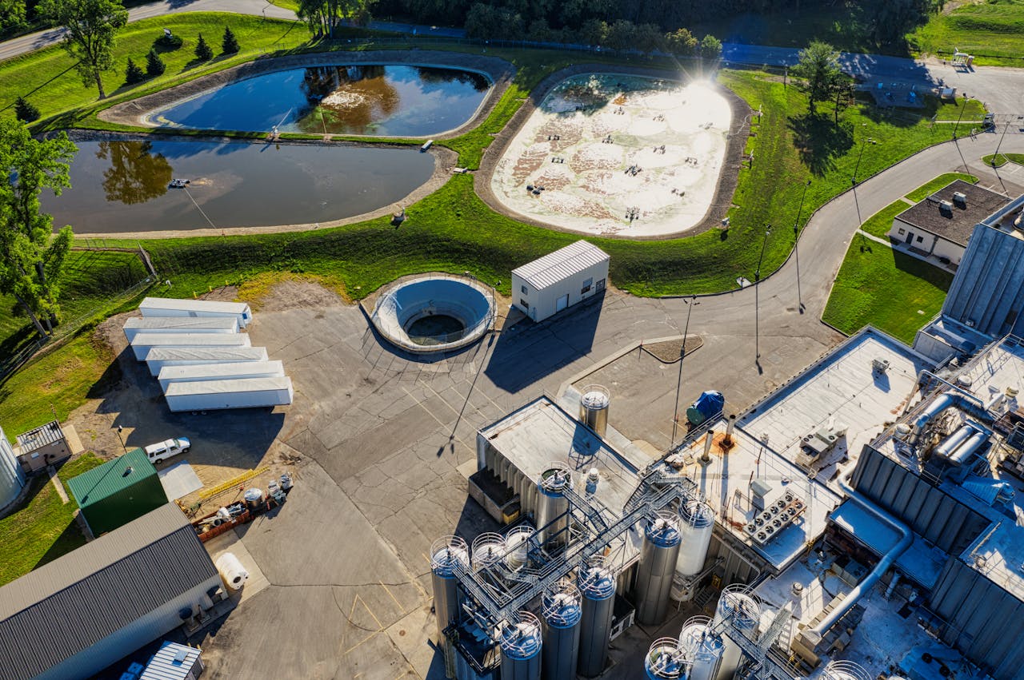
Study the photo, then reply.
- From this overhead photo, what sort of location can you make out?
industrial area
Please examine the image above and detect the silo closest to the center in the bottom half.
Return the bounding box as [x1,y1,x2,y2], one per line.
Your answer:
[578,390,609,438]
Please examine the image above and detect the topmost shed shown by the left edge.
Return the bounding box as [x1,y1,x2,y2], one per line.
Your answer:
[16,420,71,470]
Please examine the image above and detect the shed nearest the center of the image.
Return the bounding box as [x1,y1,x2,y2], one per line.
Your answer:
[511,240,611,323]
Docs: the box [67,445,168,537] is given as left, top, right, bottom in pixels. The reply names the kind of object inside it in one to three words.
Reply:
shed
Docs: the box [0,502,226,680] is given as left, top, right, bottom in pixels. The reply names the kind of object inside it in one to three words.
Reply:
shed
